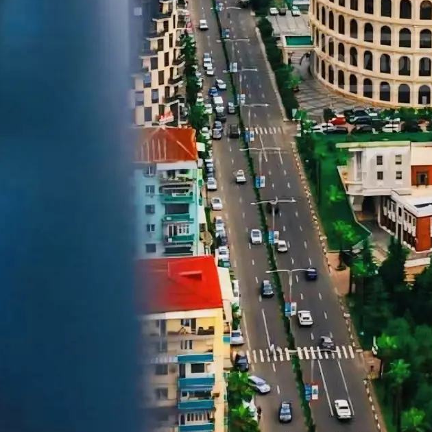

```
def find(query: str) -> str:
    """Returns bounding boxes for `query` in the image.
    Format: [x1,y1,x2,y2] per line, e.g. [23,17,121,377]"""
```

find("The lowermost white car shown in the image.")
[335,403,352,420]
